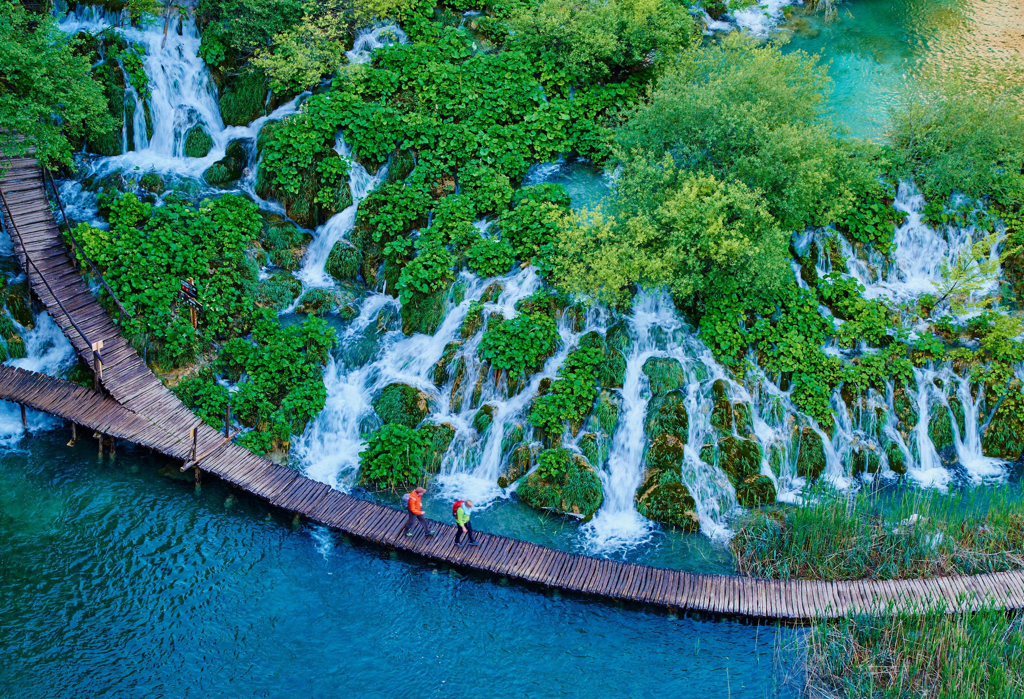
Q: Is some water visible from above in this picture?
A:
Yes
